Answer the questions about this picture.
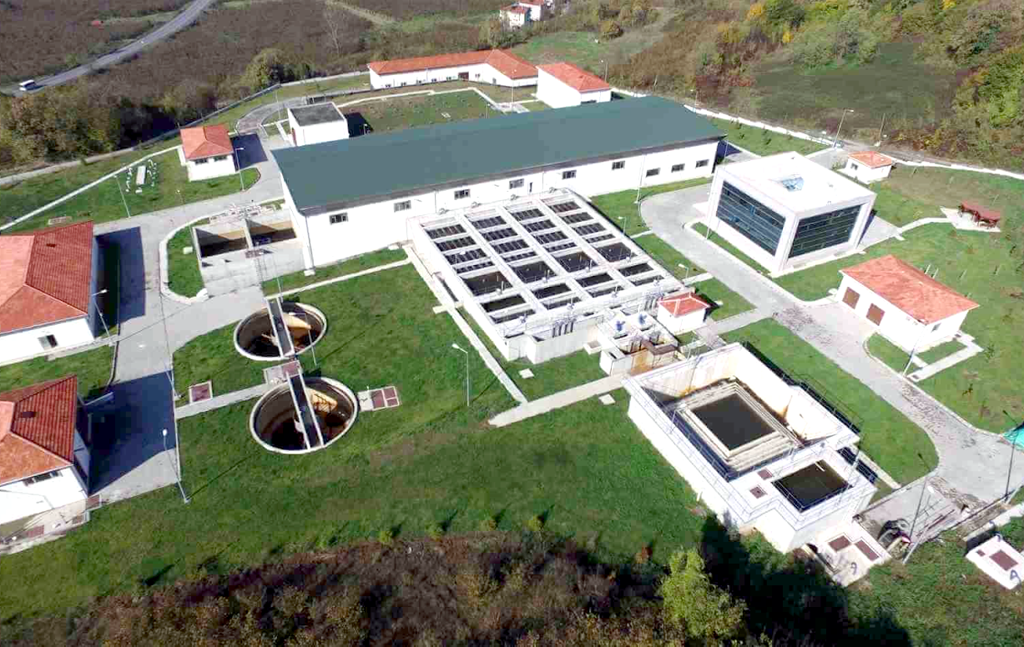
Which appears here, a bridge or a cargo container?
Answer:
bridge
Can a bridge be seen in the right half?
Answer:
No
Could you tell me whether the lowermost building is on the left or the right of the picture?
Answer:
left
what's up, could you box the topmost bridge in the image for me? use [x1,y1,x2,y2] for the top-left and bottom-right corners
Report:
[267,298,296,357]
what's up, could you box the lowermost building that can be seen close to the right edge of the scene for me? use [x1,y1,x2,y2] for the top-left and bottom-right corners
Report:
[832,254,981,349]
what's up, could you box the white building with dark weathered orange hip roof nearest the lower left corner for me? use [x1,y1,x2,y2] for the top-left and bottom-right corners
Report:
[0,370,106,522]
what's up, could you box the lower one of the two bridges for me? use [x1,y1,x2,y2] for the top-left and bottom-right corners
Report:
[289,372,325,449]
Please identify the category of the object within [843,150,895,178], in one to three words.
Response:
building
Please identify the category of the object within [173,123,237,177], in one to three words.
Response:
building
